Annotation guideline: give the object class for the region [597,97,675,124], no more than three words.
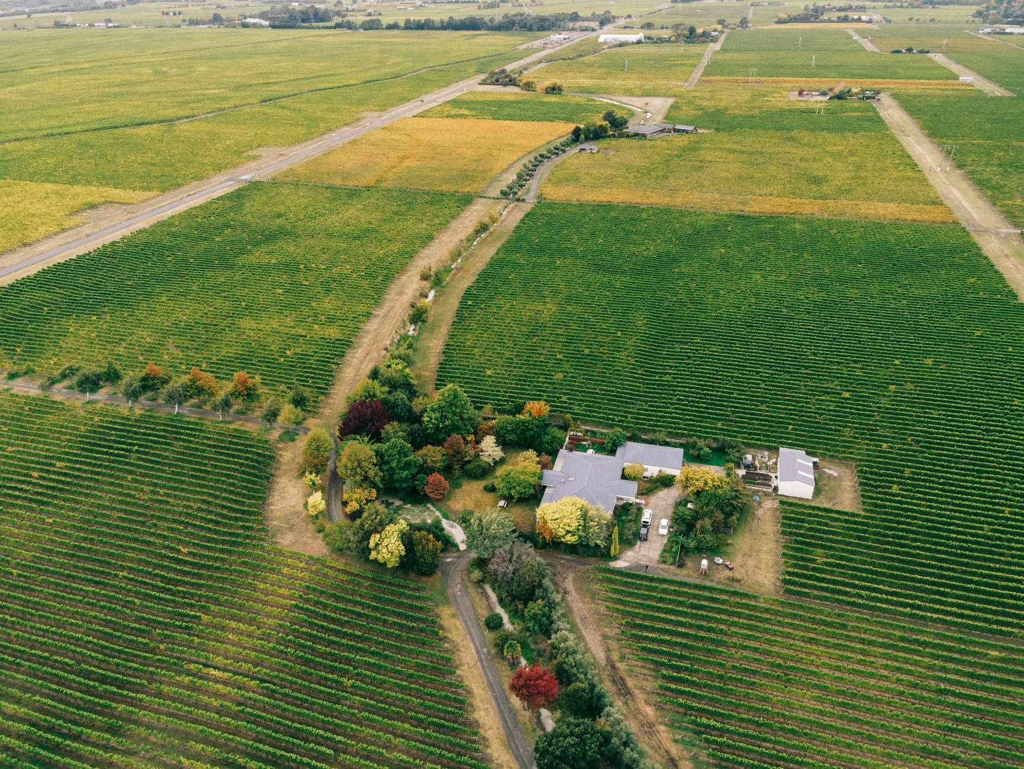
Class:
building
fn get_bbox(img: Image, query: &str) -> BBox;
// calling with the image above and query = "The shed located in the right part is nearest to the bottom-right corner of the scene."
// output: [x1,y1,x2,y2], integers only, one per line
[778,444,816,498]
